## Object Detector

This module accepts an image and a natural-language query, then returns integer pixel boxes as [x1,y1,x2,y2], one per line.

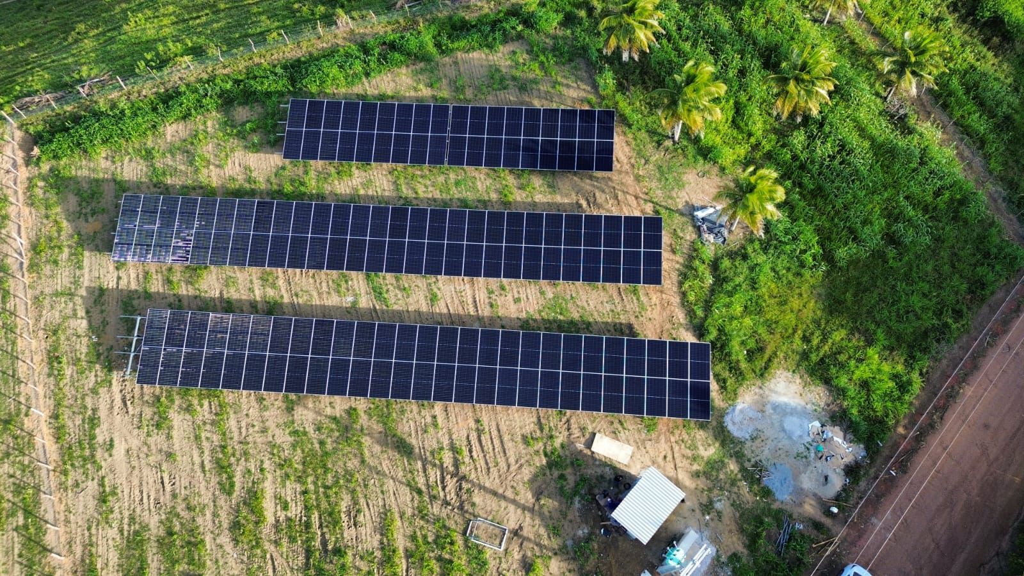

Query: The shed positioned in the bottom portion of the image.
[611,467,685,544]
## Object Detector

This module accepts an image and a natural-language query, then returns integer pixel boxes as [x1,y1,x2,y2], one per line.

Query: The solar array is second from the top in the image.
[110,193,663,286]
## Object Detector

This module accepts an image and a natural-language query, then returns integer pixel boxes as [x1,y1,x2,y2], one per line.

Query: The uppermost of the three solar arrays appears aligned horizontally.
[277,97,615,172]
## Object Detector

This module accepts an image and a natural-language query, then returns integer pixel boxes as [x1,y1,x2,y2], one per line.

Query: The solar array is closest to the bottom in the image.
[112,308,712,421]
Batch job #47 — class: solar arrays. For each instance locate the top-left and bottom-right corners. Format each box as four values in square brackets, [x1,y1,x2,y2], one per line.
[277,97,615,172]
[112,308,712,421]
[110,193,663,286]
